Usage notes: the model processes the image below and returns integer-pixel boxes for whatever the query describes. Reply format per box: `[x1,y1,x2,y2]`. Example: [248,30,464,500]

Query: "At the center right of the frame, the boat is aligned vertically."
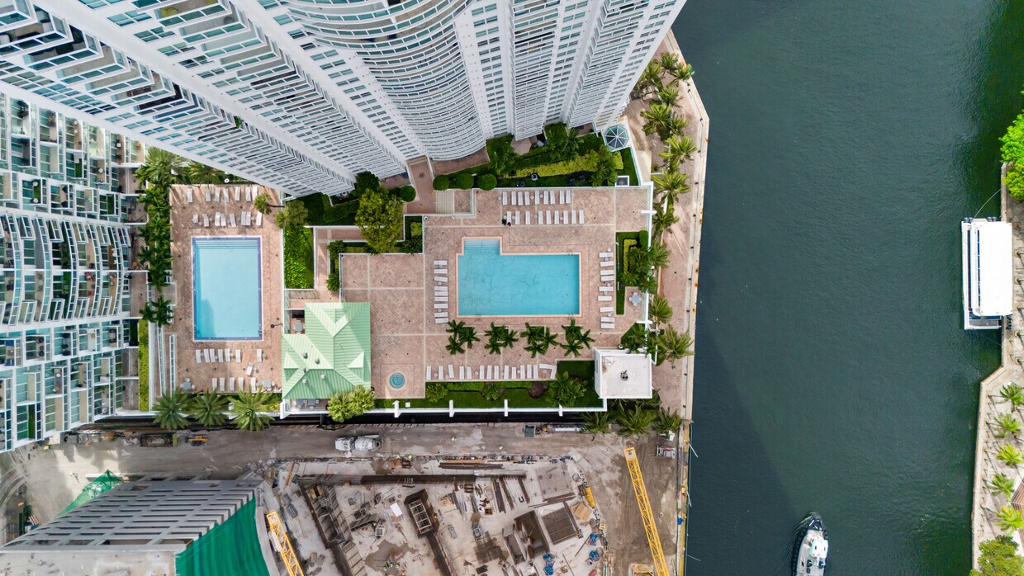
[959,216,1012,331]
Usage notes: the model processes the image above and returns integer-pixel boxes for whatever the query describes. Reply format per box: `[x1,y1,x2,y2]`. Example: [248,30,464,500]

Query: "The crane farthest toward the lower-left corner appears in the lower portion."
[260,510,306,576]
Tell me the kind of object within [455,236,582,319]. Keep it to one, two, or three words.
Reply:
swimming pool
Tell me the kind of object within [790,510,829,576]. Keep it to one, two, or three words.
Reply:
boat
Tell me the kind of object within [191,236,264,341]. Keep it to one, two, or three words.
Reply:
swimming pool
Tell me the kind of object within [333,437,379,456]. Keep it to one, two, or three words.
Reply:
vehicle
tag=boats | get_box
[959,216,1012,331]
[790,510,829,576]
